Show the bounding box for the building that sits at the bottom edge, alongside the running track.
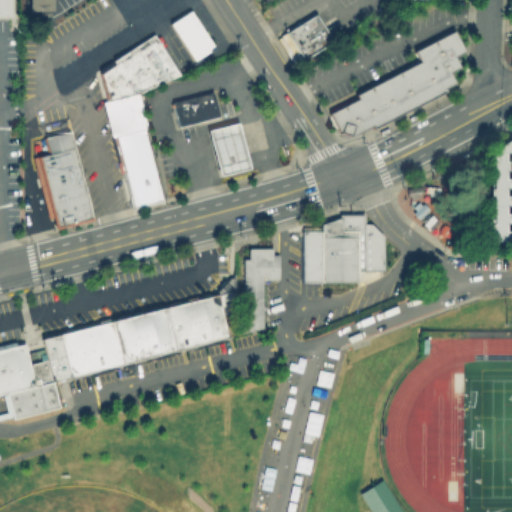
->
[362,480,404,512]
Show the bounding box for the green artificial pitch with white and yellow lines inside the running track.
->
[465,362,512,512]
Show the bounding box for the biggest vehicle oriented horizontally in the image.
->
[130,245,160,258]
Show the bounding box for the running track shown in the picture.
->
[386,339,512,512]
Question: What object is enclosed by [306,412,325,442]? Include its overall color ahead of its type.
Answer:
white tent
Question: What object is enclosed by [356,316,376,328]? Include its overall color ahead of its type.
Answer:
white vehicle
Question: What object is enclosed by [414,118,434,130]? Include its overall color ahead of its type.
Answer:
white vehicle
